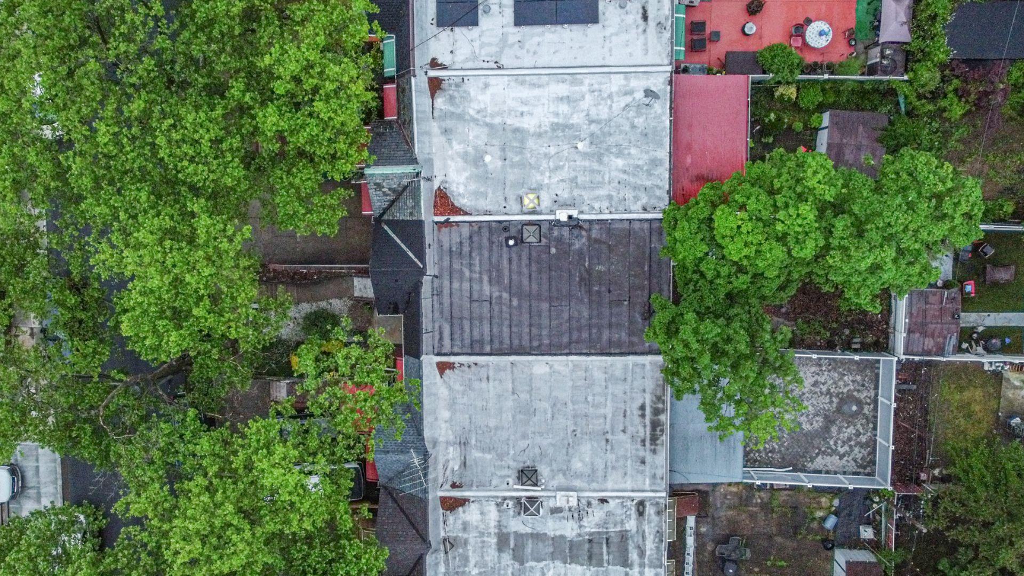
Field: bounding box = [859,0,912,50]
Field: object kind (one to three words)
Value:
gazebo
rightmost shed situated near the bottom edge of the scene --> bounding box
[828,540,890,576]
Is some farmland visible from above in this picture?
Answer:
No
